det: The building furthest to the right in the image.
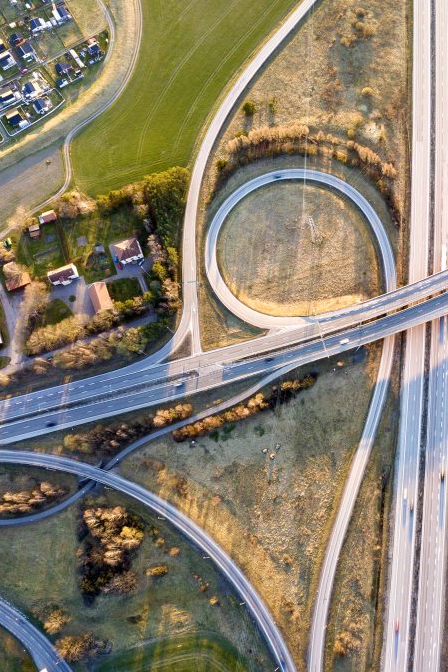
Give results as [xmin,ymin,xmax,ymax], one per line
[114,237,146,267]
